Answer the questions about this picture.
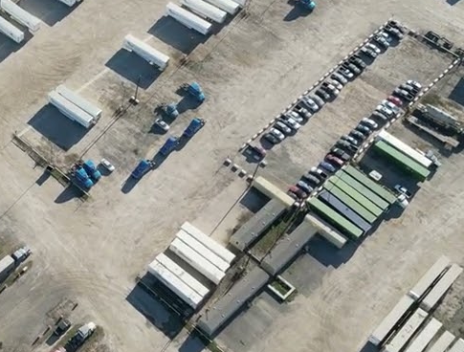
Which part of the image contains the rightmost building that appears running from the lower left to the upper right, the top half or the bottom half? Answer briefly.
bottom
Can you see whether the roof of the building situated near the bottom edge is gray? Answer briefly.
Yes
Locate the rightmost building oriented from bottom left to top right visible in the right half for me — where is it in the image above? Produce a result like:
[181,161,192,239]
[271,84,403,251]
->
[260,219,319,278]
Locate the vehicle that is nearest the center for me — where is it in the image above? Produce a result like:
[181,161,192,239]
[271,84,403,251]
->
[249,141,268,158]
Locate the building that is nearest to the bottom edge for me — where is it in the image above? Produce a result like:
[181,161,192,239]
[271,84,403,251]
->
[196,265,270,340]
